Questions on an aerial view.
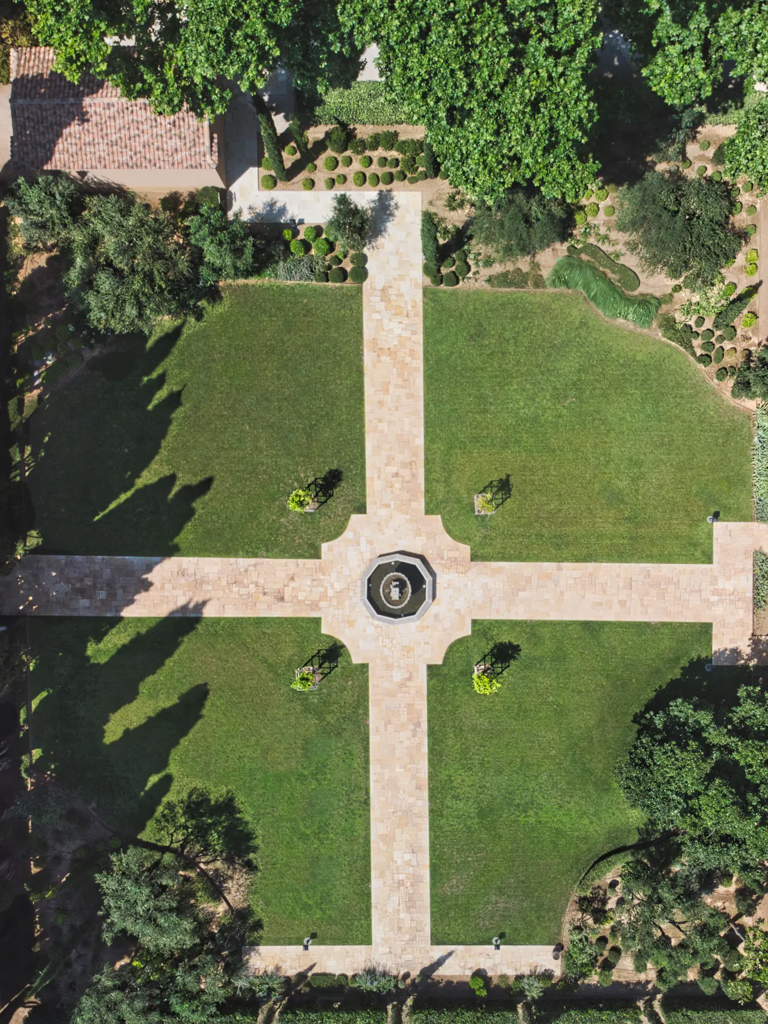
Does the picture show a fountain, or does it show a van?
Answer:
fountain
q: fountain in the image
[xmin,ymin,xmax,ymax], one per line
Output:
[363,554,430,625]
